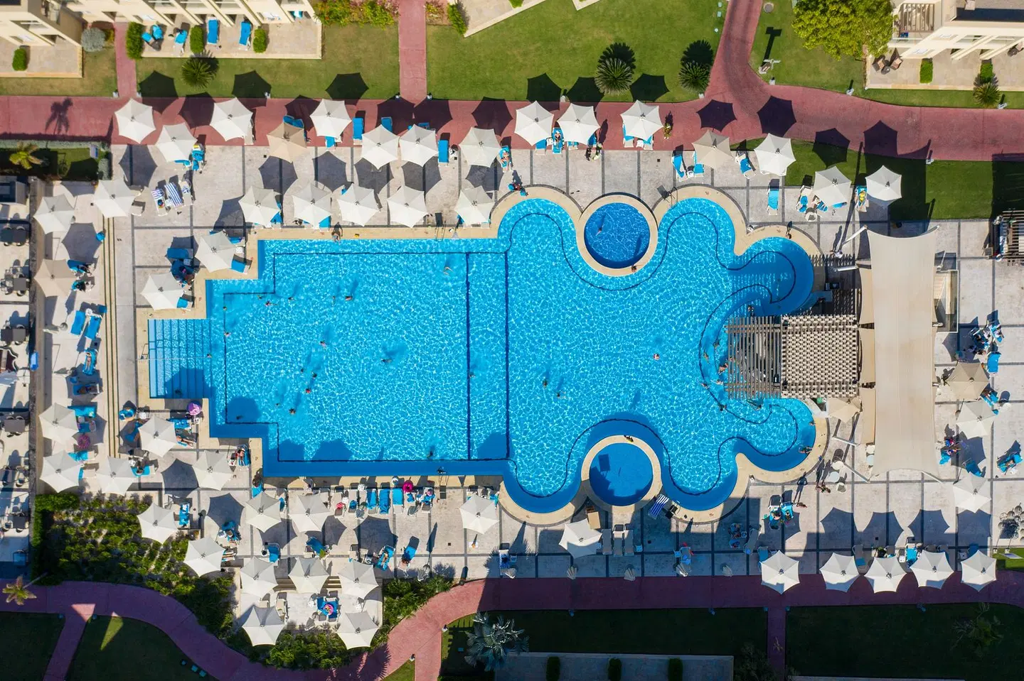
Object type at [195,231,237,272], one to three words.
umbrella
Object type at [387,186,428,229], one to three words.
umbrella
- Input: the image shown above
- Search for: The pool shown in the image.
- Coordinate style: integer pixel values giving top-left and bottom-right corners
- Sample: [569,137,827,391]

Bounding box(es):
[149,198,815,513]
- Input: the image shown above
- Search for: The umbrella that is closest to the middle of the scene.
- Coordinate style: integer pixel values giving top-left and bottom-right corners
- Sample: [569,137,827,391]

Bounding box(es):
[455,186,496,227]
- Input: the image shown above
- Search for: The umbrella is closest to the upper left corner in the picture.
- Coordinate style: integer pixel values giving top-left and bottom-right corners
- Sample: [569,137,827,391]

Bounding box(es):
[116,101,157,143]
